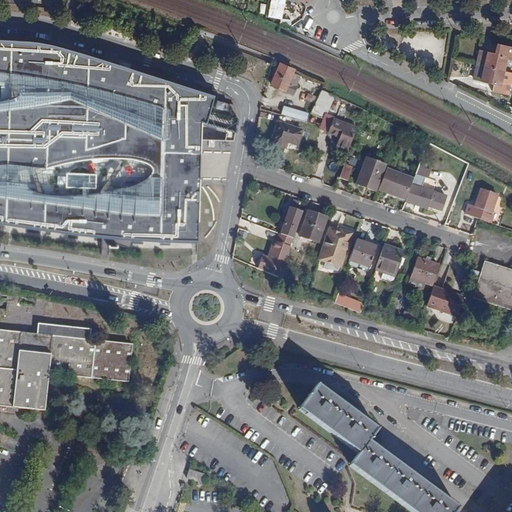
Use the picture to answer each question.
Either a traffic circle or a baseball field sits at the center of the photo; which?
traffic circle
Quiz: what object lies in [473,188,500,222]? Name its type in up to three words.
house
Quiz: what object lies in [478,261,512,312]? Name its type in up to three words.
building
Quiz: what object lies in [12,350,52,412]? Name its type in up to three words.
building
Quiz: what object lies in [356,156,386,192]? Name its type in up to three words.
house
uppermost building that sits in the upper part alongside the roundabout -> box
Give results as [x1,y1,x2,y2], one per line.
[0,40,215,244]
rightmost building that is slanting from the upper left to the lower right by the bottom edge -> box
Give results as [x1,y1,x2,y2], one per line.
[354,440,468,512]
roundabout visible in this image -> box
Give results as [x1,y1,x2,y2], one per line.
[170,271,243,344]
